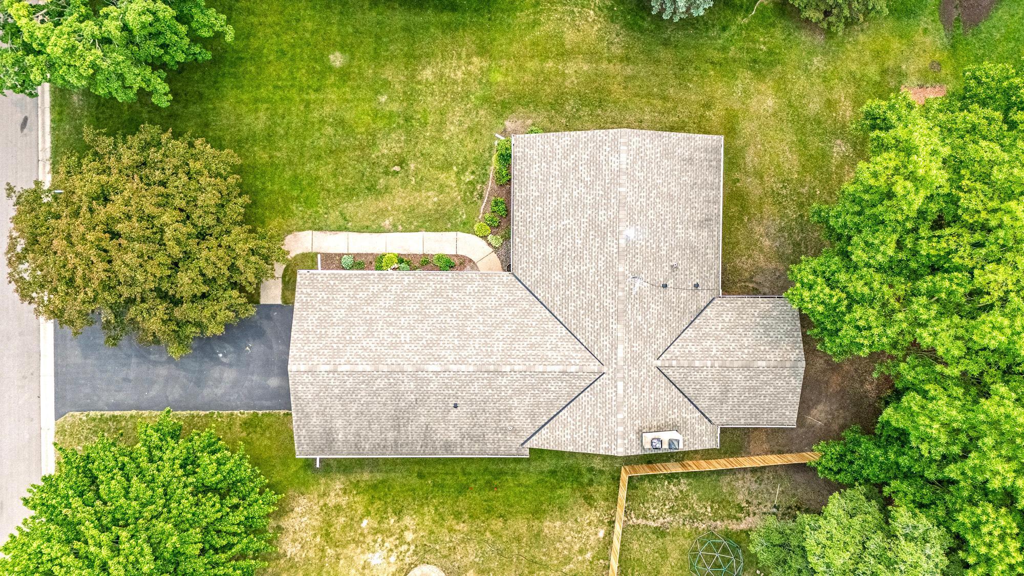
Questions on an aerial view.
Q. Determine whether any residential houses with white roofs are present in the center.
Yes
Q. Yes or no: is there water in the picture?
No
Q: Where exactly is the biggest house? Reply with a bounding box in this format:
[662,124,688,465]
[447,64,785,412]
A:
[287,128,806,467]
